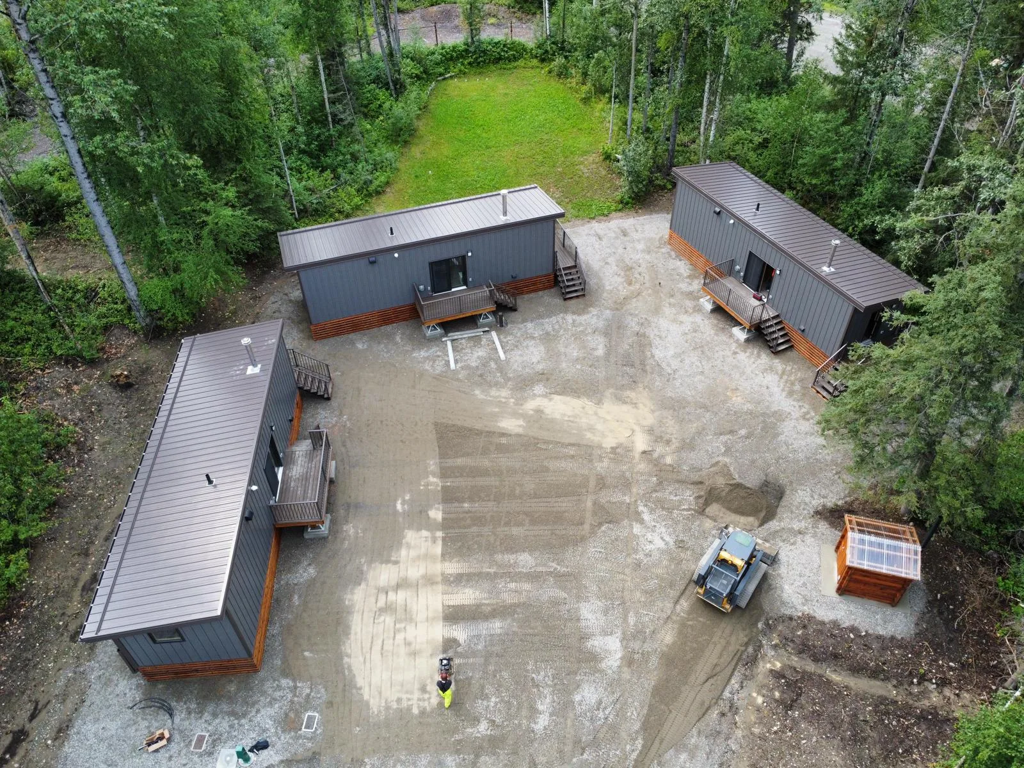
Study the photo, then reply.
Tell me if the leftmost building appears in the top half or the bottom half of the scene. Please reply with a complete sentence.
The leftmost building is in the bottom half of the image.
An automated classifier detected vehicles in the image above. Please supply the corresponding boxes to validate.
[694,524,779,613]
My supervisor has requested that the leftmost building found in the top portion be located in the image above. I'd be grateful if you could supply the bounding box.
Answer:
[277,185,566,339]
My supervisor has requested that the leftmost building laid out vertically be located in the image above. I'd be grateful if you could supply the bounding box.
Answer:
[76,320,302,683]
